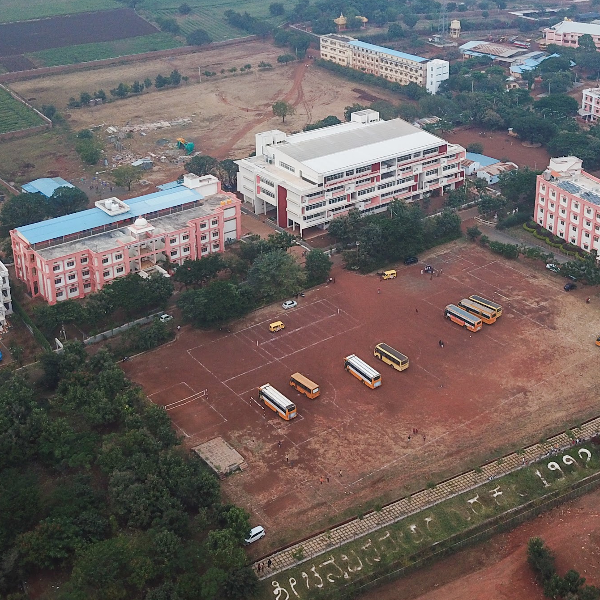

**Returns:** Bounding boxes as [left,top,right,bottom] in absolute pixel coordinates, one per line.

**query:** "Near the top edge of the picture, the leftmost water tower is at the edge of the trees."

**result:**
[448,11,463,38]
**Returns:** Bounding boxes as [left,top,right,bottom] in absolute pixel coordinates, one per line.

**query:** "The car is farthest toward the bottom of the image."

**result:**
[247,523,266,542]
